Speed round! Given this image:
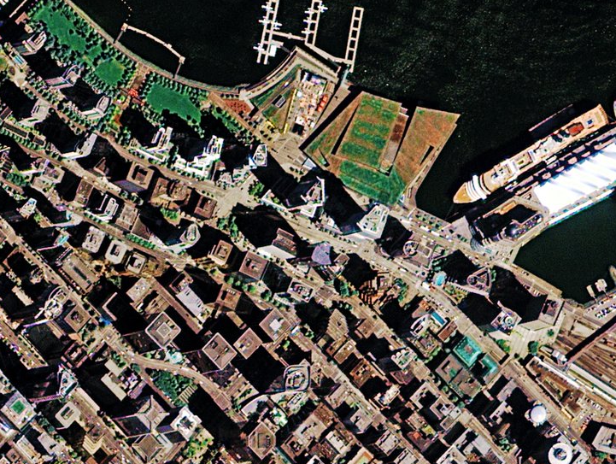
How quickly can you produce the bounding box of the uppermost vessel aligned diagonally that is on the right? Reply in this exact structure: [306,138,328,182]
[528,104,575,137]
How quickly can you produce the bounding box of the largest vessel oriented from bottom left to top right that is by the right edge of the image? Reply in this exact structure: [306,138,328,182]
[451,104,609,203]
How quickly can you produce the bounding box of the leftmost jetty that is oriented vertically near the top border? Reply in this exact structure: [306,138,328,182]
[256,0,278,63]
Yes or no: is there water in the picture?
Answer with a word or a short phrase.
Yes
